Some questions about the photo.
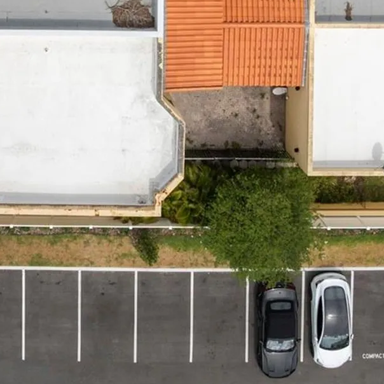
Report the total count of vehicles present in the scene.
2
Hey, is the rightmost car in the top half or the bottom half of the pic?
bottom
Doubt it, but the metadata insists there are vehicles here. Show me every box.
[308,272,358,367]
[255,280,302,377]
